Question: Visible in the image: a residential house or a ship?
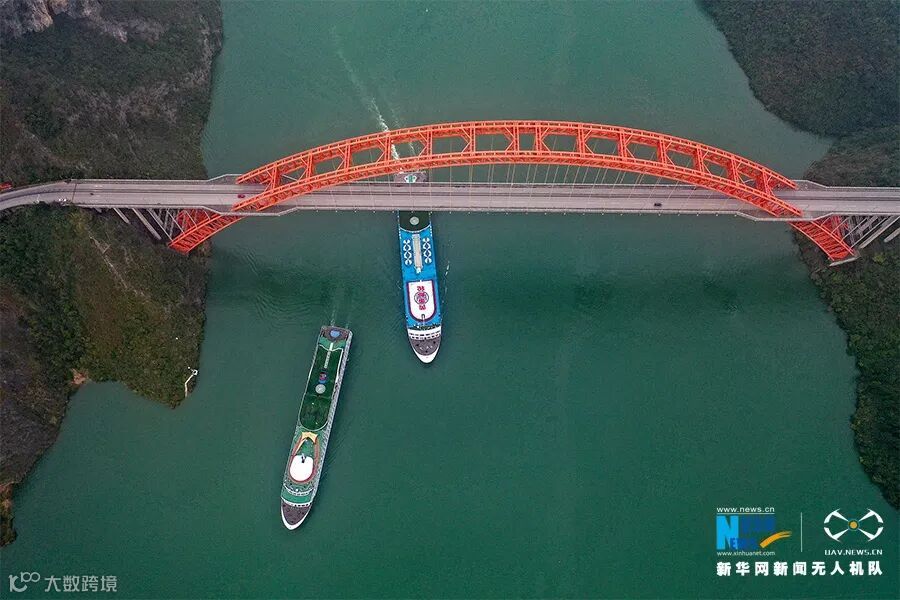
ship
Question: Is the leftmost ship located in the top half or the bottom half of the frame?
bottom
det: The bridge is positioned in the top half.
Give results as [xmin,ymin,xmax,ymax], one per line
[72,120,900,264]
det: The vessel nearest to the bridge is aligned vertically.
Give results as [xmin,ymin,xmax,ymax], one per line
[398,210,440,363]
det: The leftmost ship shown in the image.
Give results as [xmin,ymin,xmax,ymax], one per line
[283,327,352,530]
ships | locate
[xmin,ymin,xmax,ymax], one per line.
[398,210,440,363]
[283,327,352,530]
